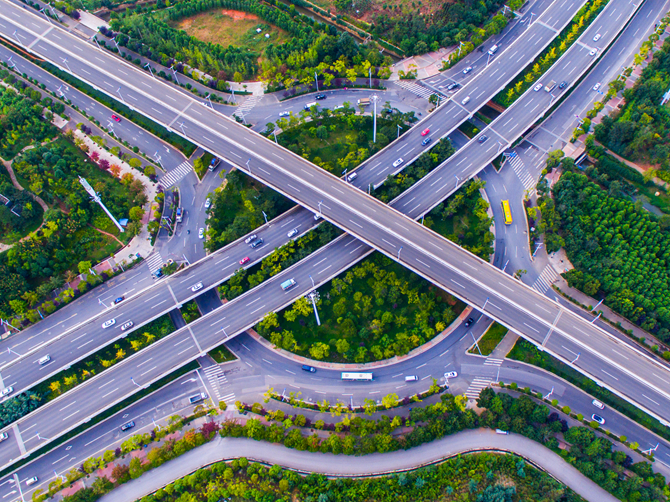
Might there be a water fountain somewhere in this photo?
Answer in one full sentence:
No, there's no water fountain here.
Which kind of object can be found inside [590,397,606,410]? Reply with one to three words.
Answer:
vehicle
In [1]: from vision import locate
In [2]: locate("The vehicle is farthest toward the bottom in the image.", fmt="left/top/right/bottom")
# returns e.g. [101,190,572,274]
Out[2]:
[22,475,39,488]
